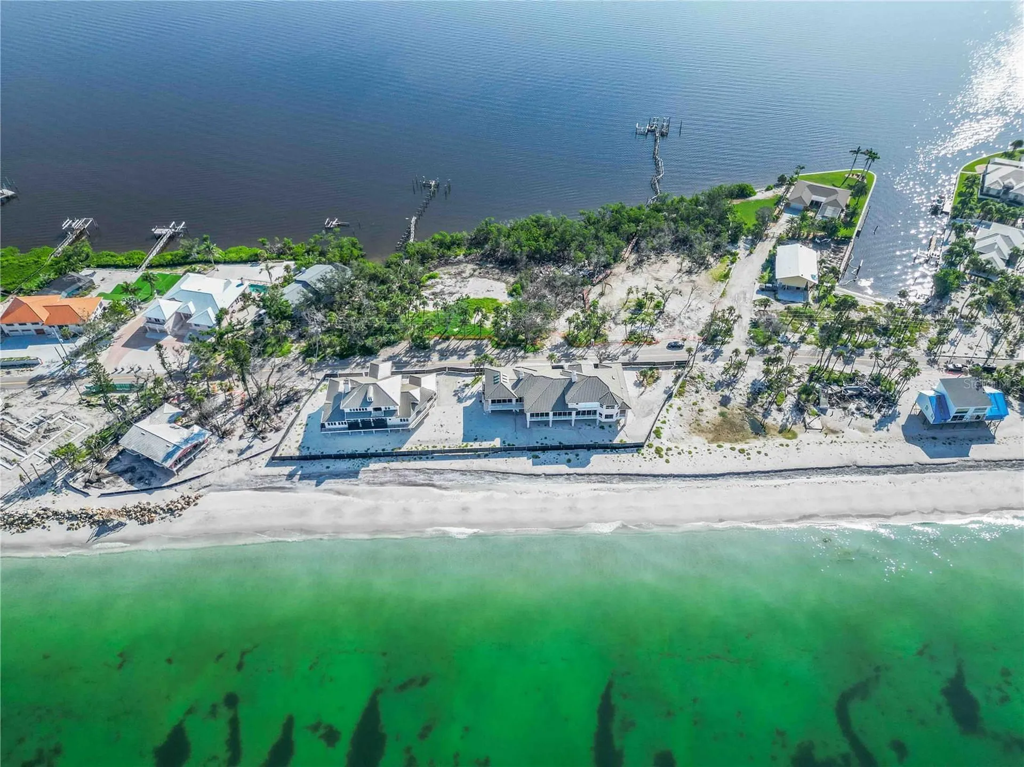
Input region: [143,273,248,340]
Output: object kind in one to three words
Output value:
house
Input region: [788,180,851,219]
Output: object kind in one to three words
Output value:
house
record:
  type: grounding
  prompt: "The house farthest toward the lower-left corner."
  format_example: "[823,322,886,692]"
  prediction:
[119,404,225,478]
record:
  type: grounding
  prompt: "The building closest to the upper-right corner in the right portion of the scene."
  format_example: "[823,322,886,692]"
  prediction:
[982,159,1024,200]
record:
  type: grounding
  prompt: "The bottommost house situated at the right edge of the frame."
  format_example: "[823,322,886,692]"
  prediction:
[912,377,1008,434]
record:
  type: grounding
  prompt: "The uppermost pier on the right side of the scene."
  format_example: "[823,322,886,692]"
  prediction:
[636,117,670,195]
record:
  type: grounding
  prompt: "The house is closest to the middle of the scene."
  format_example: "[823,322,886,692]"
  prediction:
[485,364,631,433]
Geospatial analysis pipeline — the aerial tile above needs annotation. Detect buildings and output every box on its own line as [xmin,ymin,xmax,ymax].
[143,273,248,340]
[982,159,1024,200]
[912,377,1008,434]
[0,295,104,339]
[119,404,225,478]
[770,244,818,295]
[485,364,631,433]
[788,180,851,219]
[283,263,349,316]
[322,362,440,443]
[973,226,1024,274]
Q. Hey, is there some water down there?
Yes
